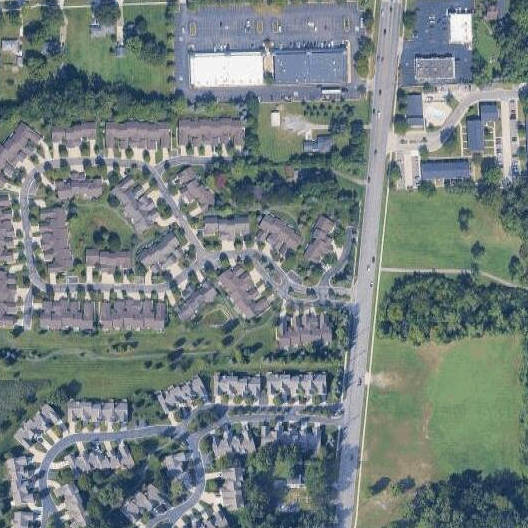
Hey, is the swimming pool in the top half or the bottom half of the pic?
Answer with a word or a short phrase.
top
